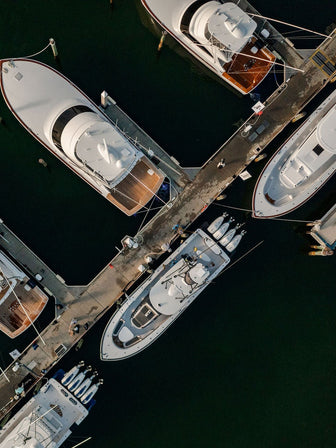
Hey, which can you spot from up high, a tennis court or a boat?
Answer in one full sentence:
Of the two, only a boat appears.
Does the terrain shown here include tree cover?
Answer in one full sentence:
No, tree cover can't be seen anywhere here.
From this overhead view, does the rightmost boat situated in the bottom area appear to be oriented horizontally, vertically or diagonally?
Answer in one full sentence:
What the image shows is the rightmost boat situated in the bottom area lying diagonally.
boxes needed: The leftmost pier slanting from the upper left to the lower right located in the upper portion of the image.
[101,101,201,205]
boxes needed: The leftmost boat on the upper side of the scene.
[0,58,168,217]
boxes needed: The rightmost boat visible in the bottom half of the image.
[100,213,263,361]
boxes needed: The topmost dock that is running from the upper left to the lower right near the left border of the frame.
[0,219,86,319]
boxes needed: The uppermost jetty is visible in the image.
[243,0,316,82]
